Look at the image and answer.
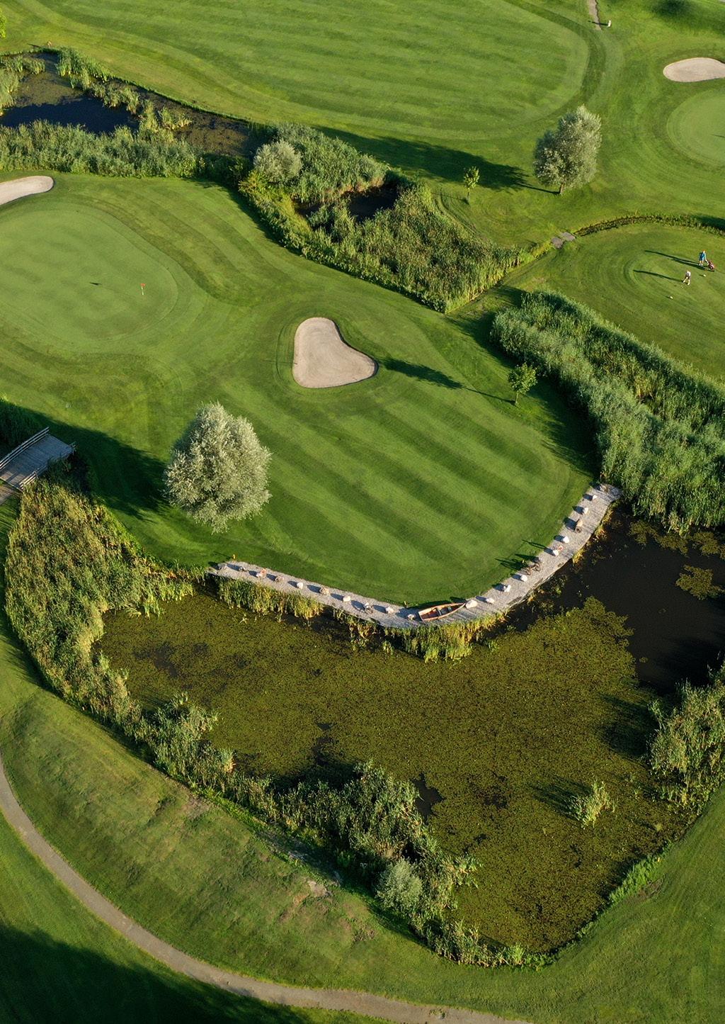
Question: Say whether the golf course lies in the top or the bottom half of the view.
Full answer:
It is in the top half that the golf course appears.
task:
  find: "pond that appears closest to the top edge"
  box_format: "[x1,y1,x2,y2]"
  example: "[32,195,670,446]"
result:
[0,52,265,162]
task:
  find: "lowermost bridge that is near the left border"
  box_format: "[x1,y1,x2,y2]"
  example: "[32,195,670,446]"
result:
[0,424,73,492]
